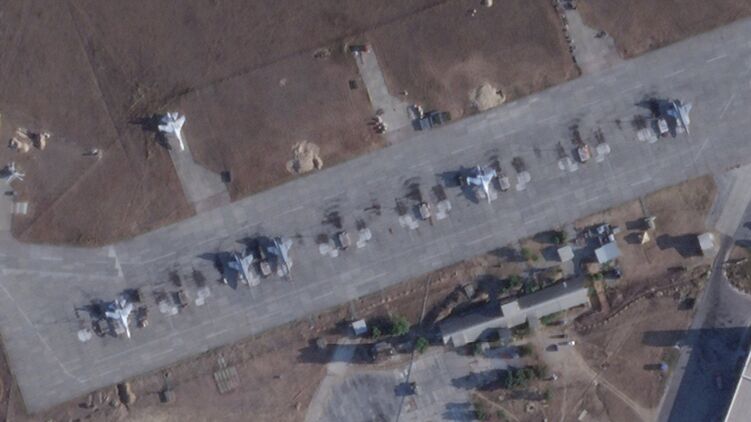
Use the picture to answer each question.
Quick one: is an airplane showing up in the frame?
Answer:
Yes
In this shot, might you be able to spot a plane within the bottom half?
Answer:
Yes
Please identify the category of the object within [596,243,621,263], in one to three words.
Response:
building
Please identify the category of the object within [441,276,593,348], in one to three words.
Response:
building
